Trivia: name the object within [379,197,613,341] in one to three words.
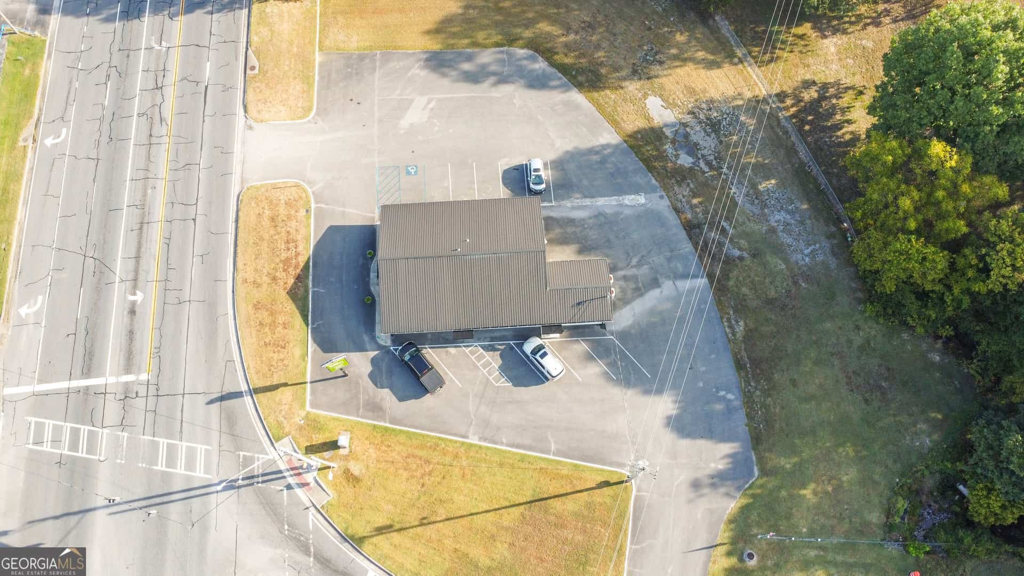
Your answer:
building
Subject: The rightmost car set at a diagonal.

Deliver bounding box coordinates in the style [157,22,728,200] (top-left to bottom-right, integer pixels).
[522,335,565,381]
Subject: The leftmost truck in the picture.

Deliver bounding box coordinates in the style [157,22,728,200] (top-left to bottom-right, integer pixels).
[398,342,445,395]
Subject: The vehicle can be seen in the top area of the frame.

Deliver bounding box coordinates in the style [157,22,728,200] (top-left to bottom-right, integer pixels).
[527,158,547,196]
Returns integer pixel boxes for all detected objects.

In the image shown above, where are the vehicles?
[522,335,565,381]
[398,342,445,395]
[527,158,547,196]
